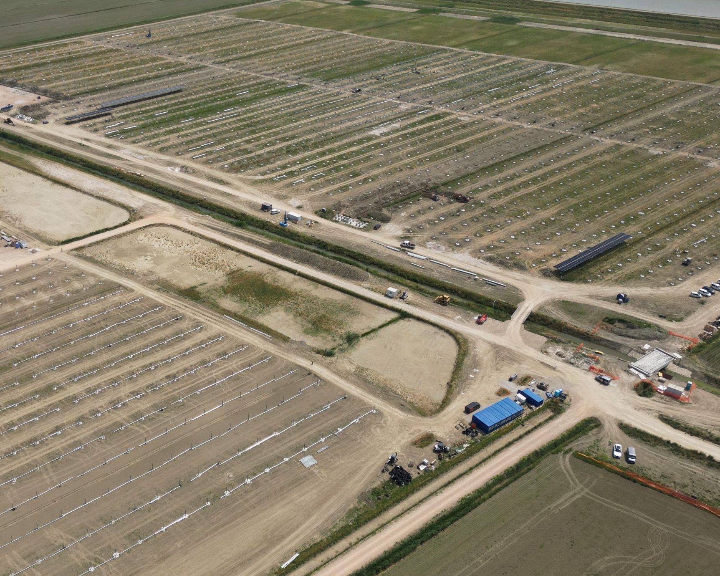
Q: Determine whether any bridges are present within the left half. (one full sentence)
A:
No, looking within the left half, there is no bridge.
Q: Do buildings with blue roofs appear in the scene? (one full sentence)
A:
Yes, the image includes a building with a blue roof.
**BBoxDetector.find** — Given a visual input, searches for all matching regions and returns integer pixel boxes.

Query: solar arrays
[103,87,184,106]
[66,107,115,121]
[554,232,632,272]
